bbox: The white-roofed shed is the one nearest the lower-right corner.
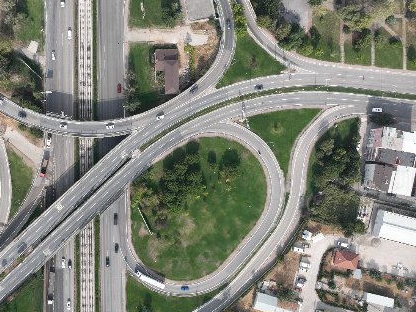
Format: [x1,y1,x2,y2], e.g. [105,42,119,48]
[362,289,395,308]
